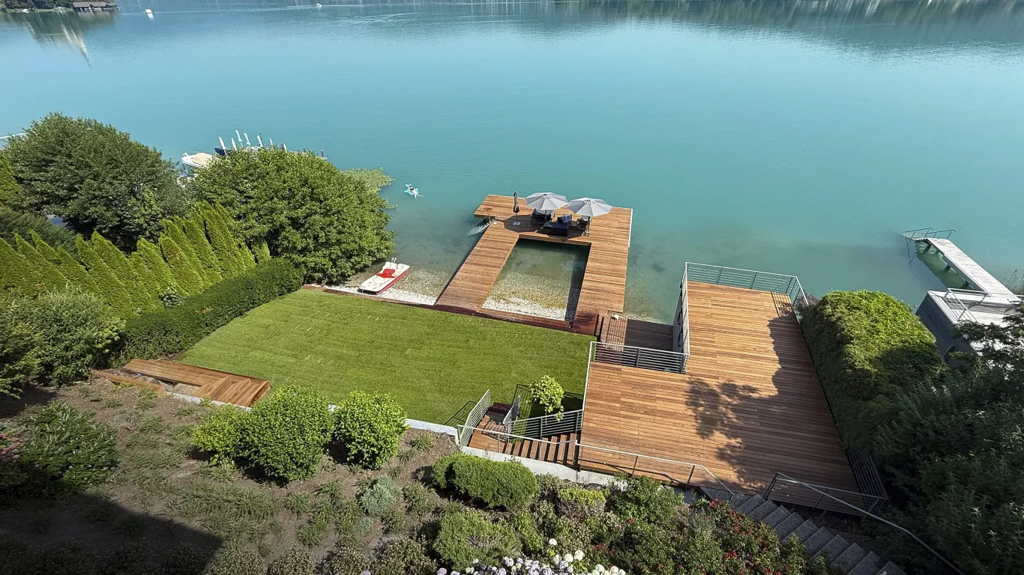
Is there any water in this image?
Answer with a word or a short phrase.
Yes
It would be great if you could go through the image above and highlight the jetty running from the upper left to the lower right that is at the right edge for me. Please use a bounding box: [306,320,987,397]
[893,223,1024,303]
